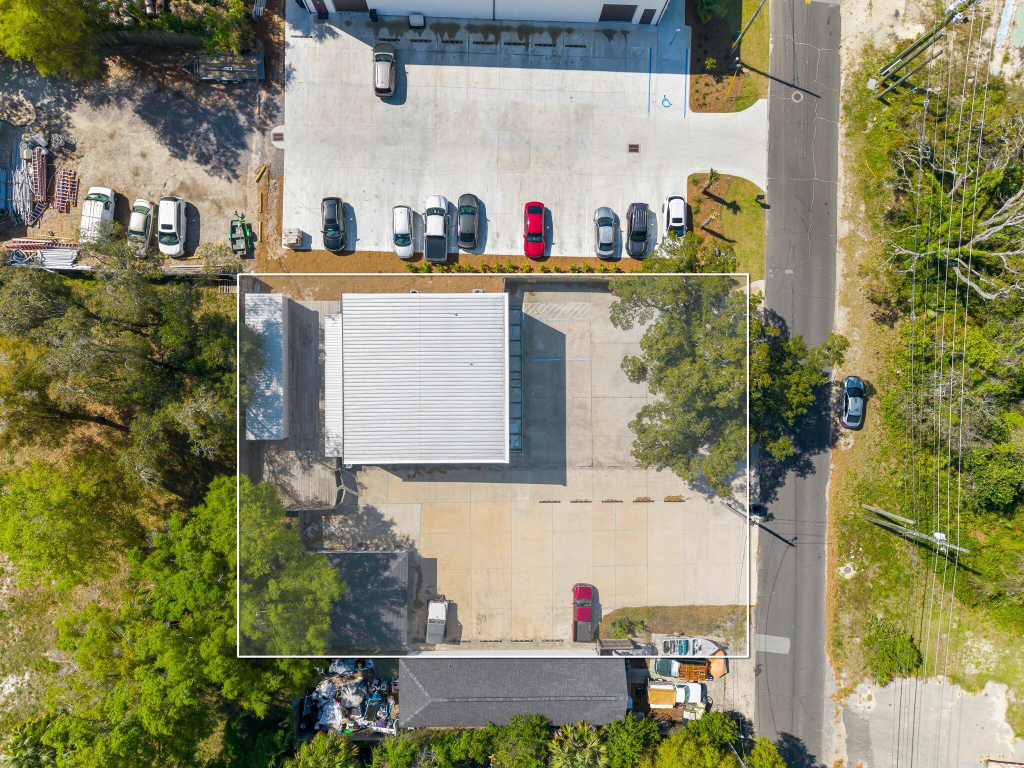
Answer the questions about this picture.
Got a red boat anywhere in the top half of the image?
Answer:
No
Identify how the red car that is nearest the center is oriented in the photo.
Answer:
from top to bottom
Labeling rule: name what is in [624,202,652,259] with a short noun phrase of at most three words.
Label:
car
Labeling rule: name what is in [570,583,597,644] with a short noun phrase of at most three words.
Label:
truck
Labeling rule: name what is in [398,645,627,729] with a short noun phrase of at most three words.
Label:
house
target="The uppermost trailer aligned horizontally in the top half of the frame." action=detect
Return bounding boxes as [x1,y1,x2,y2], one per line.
[180,49,260,83]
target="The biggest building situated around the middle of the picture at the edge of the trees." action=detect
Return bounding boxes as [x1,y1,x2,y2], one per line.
[324,292,510,465]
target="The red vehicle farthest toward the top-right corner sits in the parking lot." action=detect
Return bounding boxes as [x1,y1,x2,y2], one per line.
[521,202,548,258]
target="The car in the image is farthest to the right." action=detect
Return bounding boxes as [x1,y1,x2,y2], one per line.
[838,375,868,430]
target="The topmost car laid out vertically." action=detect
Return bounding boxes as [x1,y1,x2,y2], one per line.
[370,44,397,98]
